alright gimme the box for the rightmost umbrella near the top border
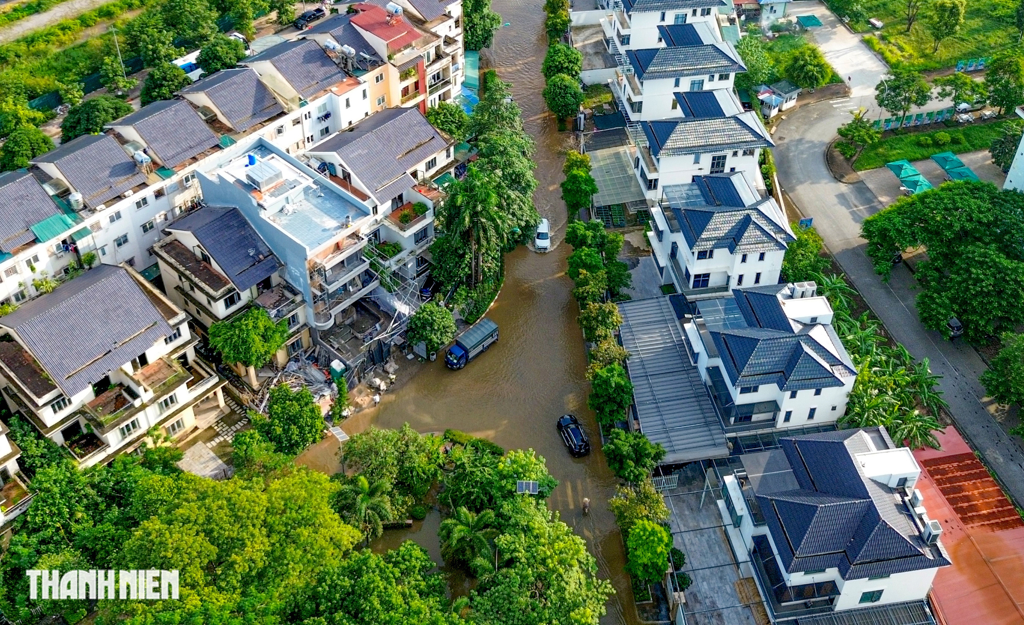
[793,15,826,36]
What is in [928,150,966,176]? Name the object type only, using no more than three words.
umbrella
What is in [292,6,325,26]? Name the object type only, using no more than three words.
vehicle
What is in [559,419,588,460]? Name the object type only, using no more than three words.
car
